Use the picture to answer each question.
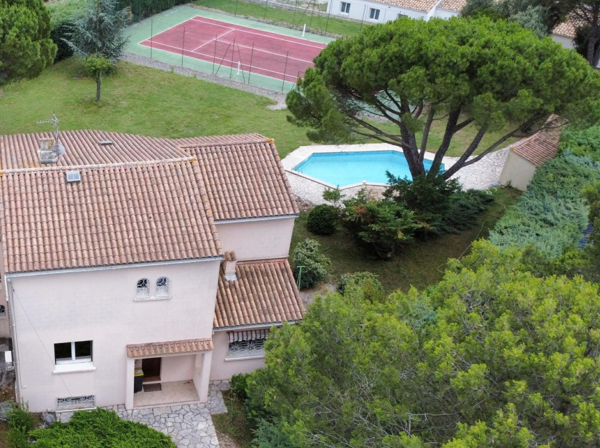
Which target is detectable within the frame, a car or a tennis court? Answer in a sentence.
This aerial view contains a tennis court.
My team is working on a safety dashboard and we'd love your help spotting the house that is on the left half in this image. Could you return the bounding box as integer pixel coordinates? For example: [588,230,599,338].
[0,129,306,412]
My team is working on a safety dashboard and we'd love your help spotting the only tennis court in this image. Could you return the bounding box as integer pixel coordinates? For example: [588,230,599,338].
[111,3,487,131]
